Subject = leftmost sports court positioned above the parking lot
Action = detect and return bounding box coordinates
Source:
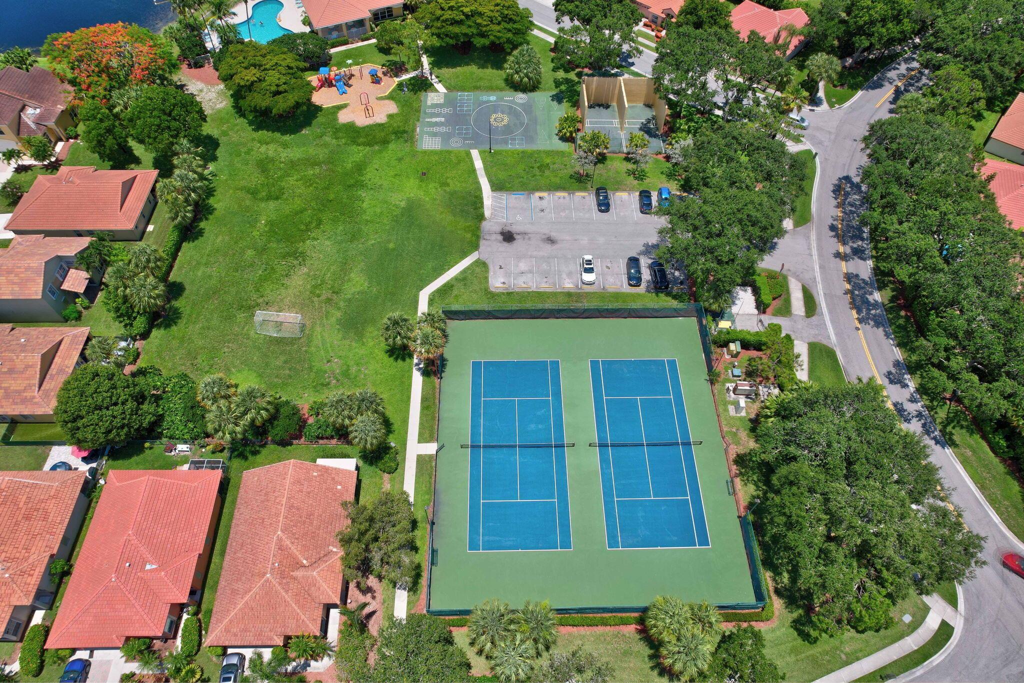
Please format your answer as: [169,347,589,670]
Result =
[417,92,568,149]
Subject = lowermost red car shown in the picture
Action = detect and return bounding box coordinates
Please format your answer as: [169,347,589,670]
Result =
[1000,551,1024,576]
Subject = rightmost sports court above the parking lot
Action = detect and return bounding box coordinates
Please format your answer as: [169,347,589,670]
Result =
[583,77,666,152]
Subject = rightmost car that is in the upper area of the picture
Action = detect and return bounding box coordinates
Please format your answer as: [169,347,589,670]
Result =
[785,111,813,130]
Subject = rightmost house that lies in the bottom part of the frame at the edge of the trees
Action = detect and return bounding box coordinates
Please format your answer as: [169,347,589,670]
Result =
[203,457,358,647]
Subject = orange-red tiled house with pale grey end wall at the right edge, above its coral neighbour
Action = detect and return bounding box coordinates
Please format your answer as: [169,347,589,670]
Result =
[984,90,1024,169]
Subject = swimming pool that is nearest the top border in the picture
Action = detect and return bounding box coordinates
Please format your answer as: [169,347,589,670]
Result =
[202,0,316,52]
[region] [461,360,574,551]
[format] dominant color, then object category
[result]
blue tennis court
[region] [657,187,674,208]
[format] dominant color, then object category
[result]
blue car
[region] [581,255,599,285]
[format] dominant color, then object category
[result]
white car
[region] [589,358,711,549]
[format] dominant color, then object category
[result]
blue tennis court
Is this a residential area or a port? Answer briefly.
residential area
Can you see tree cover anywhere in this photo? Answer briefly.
Yes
